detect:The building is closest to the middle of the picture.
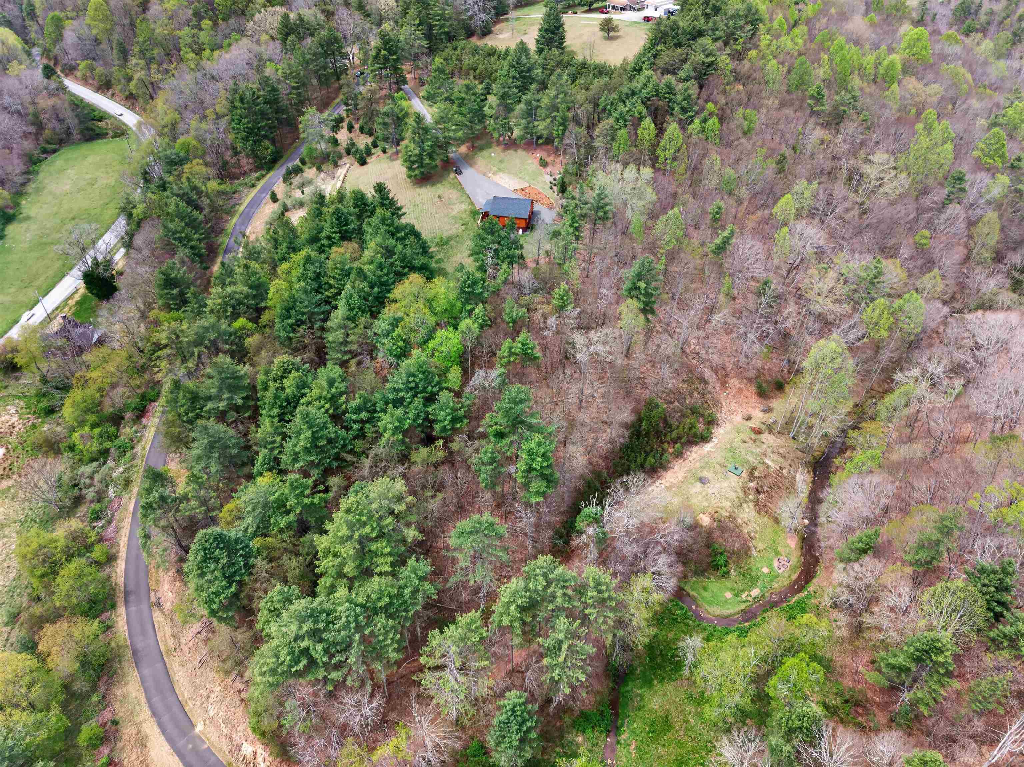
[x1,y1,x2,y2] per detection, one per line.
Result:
[472,198,531,236]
